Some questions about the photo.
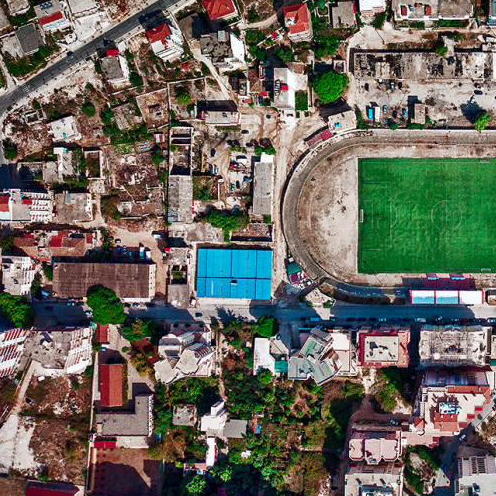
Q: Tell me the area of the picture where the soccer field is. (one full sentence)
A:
You can find the soccer field in the right area of the picture.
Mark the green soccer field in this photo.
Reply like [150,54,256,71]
[358,158,496,273]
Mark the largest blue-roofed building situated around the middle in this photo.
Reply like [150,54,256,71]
[196,248,276,299]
